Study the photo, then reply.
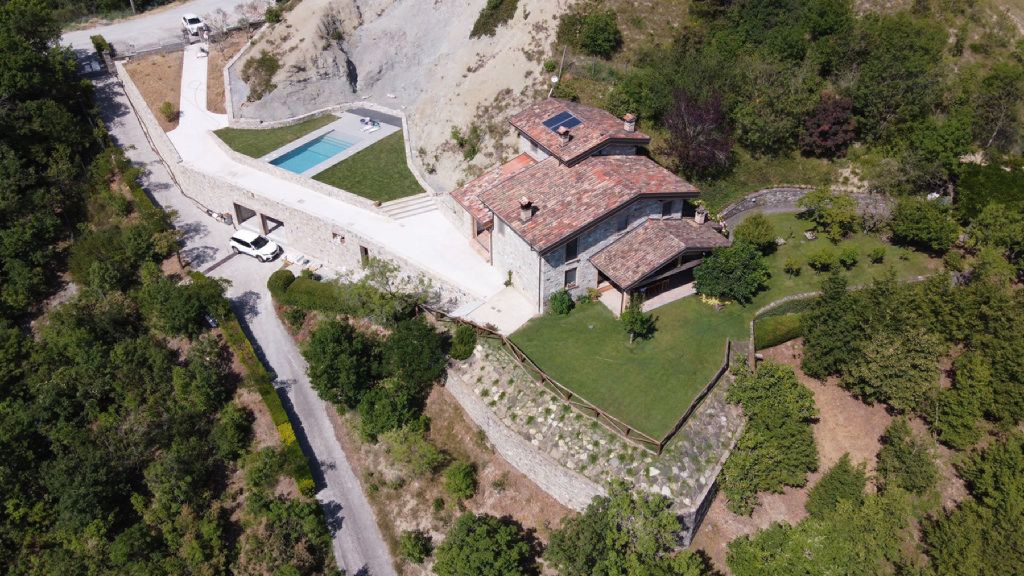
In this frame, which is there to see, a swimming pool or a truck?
swimming pool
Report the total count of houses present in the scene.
1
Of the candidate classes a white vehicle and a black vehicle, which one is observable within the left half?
white vehicle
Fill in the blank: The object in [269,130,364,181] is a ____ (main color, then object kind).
blue swimming pool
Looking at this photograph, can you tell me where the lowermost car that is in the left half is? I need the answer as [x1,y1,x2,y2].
[228,229,278,263]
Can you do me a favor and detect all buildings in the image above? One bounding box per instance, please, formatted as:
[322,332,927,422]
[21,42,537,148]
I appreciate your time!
[448,93,730,320]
